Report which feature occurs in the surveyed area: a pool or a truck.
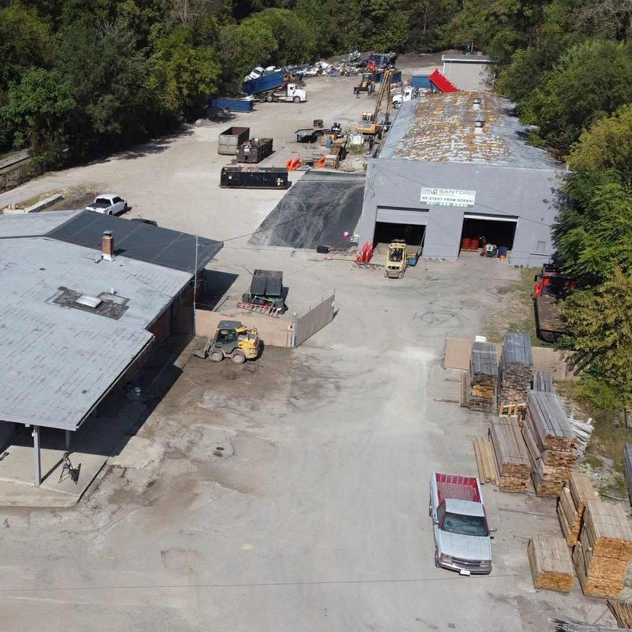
truck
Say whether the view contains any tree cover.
Yes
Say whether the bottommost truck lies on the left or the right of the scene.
right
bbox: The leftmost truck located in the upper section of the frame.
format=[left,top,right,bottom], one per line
[80,188,133,214]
